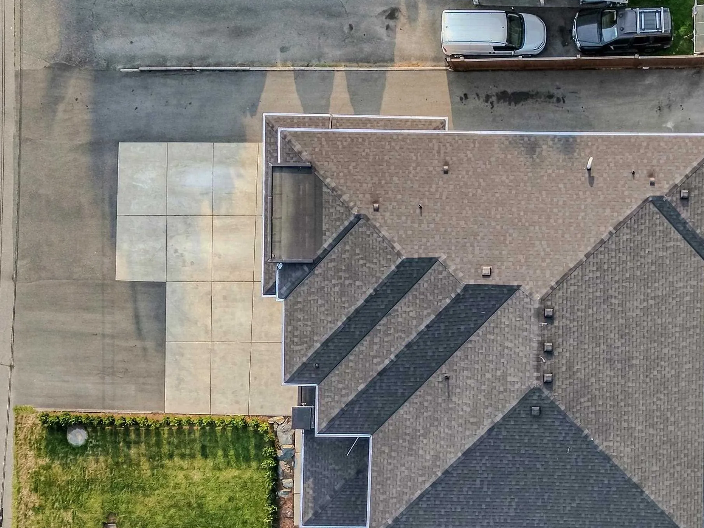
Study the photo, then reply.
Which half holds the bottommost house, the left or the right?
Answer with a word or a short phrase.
right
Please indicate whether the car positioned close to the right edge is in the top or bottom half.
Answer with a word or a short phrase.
top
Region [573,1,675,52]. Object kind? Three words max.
car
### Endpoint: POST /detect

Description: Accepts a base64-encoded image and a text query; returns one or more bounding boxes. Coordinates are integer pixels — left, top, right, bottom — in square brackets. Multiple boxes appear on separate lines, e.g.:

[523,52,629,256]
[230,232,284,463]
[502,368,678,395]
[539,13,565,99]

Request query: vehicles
[440,10,546,56]
[573,1,675,52]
